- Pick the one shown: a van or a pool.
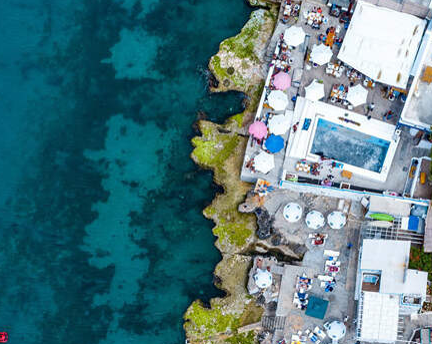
pool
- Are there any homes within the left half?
No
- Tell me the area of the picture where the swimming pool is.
right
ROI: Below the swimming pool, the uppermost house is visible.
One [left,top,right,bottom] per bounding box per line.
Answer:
[361,198,412,220]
